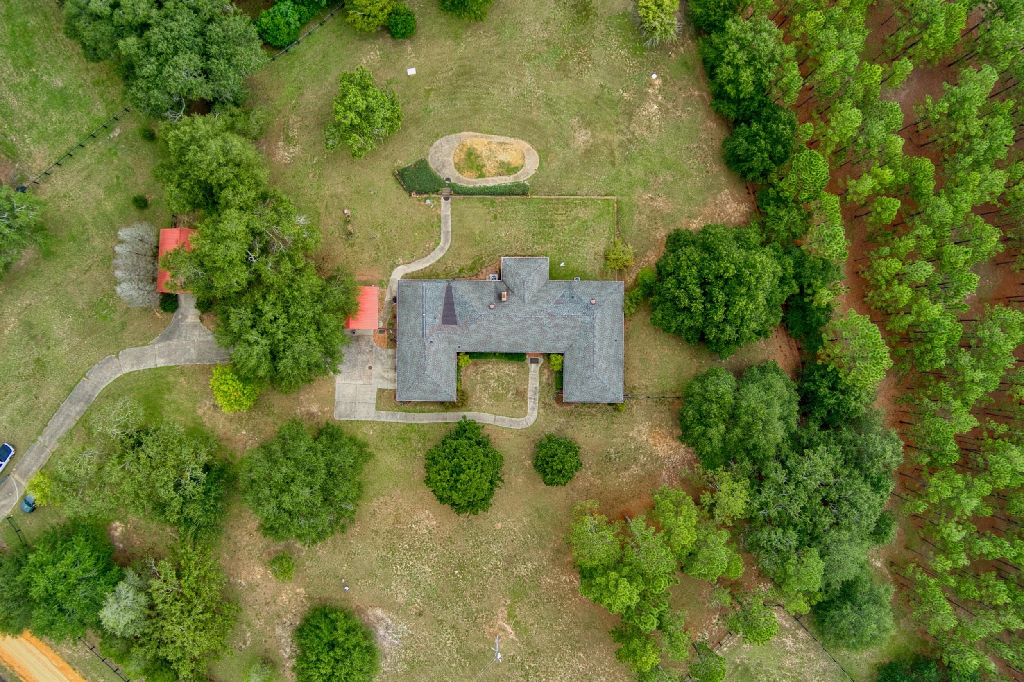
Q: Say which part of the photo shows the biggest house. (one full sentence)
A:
The biggest house sits in the center section of the image.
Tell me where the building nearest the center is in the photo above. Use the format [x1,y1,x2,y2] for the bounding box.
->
[396,257,624,403]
